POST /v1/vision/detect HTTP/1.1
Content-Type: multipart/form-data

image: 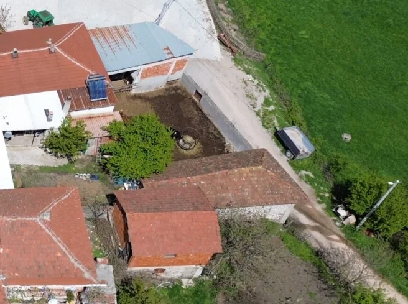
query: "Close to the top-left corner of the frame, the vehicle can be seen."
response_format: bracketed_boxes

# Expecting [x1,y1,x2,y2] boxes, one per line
[22,7,59,29]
